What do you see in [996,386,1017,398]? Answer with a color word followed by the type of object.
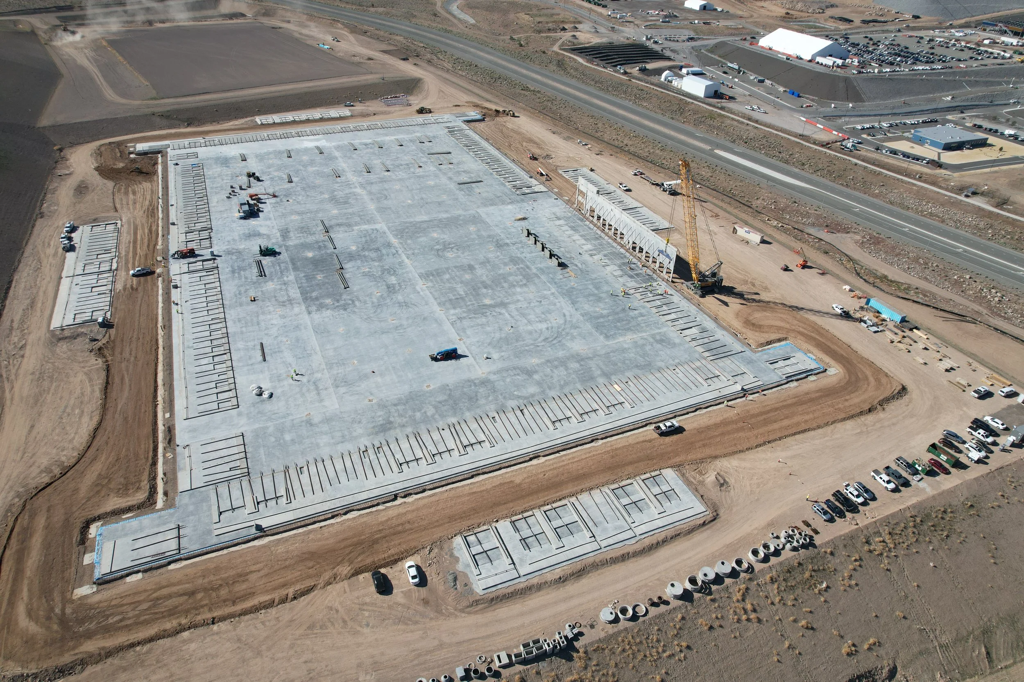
white vehicle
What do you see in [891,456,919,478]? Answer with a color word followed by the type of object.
gray car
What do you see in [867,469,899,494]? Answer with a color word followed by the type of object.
white truck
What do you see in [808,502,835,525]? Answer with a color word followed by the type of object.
gray car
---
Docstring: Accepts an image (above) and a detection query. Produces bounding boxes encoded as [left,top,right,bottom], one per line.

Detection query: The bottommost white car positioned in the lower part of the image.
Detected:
[405,560,421,587]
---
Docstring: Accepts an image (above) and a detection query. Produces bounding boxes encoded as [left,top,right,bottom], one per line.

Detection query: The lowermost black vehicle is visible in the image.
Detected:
[370,572,388,596]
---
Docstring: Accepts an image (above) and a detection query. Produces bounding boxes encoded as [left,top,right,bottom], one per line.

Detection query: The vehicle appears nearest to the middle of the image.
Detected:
[428,349,458,364]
